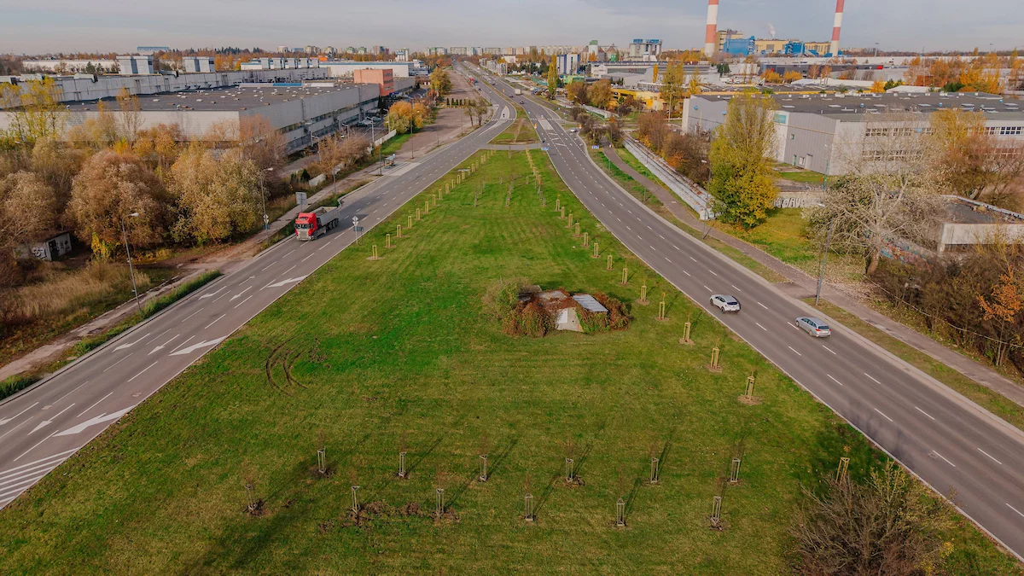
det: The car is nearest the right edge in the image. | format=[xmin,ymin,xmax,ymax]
[795,315,834,336]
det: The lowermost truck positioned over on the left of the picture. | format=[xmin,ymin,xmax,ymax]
[294,206,337,238]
